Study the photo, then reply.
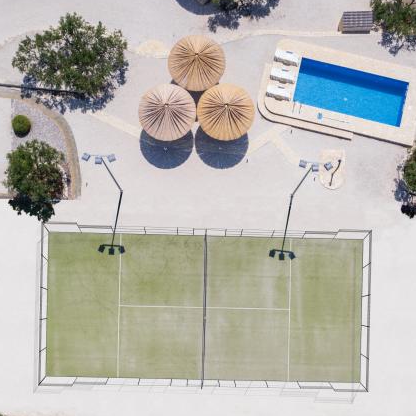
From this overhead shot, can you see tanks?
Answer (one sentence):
No, there is no tank in the image.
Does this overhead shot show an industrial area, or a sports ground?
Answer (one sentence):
This image shows a sports ground.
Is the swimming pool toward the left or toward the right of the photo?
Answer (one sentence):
The swimming pool sits on the right side.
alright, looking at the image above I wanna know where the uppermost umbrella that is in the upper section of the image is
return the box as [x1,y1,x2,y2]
[168,35,225,94]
